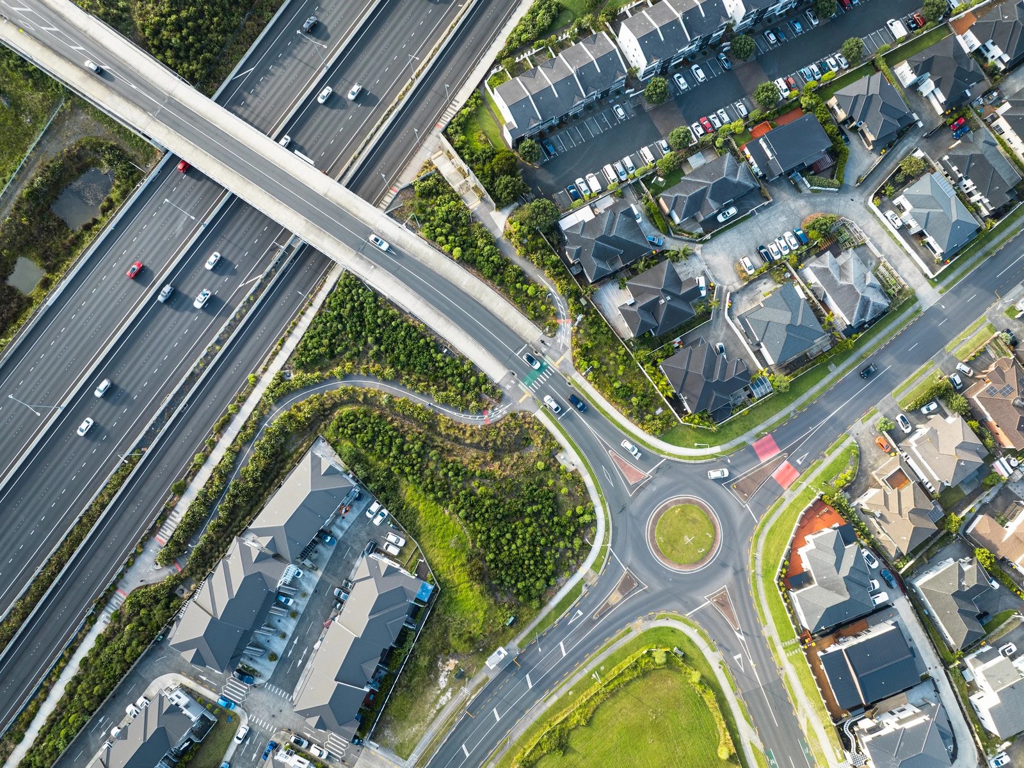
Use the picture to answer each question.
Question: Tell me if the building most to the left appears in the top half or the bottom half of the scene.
bottom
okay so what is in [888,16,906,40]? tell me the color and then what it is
white vehicle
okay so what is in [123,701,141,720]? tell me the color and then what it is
white car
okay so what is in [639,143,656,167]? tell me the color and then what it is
white vehicle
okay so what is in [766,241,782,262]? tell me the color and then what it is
white car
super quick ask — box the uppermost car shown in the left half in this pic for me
[301,14,320,35]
